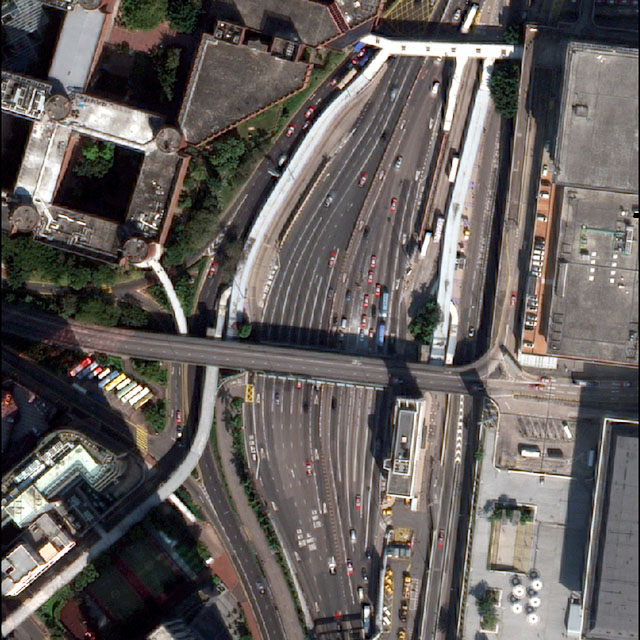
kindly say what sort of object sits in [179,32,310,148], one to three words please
building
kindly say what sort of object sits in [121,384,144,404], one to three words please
bus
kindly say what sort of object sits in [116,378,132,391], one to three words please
vehicle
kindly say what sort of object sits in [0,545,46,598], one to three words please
building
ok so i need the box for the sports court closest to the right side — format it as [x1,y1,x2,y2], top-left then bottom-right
[121,518,191,597]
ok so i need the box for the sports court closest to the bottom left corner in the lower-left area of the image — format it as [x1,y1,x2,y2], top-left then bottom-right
[79,552,160,640]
